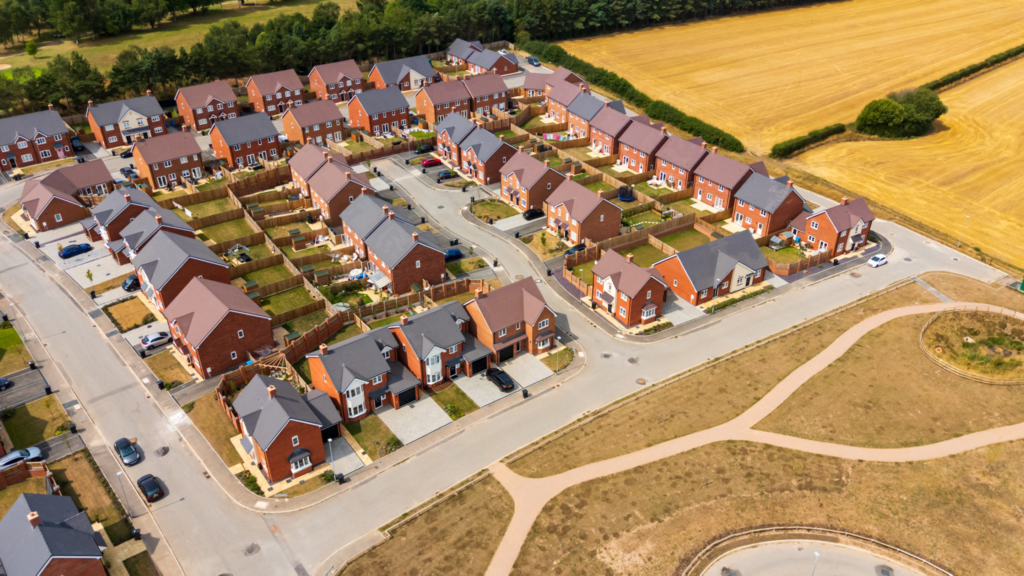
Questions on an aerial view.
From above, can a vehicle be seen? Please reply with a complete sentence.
Yes, you can see a vehicle in this photo.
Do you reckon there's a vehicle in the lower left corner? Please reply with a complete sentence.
Yes, I can see a vehicle in the lower left corner.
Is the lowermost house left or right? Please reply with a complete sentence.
The lowermost house is on the left side of the image.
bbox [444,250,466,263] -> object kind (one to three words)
vehicle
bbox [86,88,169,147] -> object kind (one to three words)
house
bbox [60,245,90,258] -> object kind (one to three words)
vehicle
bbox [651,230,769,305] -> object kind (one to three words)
house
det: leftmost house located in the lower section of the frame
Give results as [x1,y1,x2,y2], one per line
[0,493,108,576]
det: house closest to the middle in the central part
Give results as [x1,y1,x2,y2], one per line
[463,277,558,364]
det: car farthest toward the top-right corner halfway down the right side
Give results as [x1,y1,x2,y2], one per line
[865,254,890,269]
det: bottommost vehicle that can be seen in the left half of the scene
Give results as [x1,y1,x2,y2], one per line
[137,474,165,506]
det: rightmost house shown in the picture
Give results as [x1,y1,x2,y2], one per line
[787,194,876,258]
